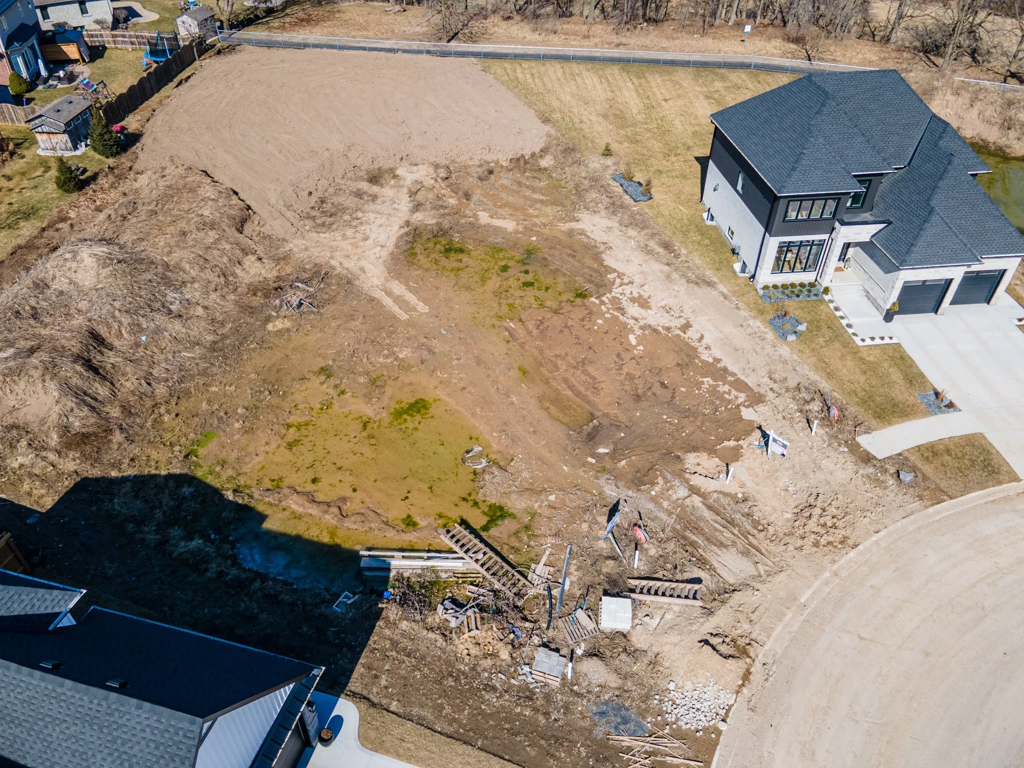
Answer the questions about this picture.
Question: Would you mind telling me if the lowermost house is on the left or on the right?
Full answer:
It is on the left.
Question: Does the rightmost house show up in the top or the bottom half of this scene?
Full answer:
It is in the top half that the rightmost house appears.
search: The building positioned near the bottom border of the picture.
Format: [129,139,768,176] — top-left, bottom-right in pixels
[0,565,330,768]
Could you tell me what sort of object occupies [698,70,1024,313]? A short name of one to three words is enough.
house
